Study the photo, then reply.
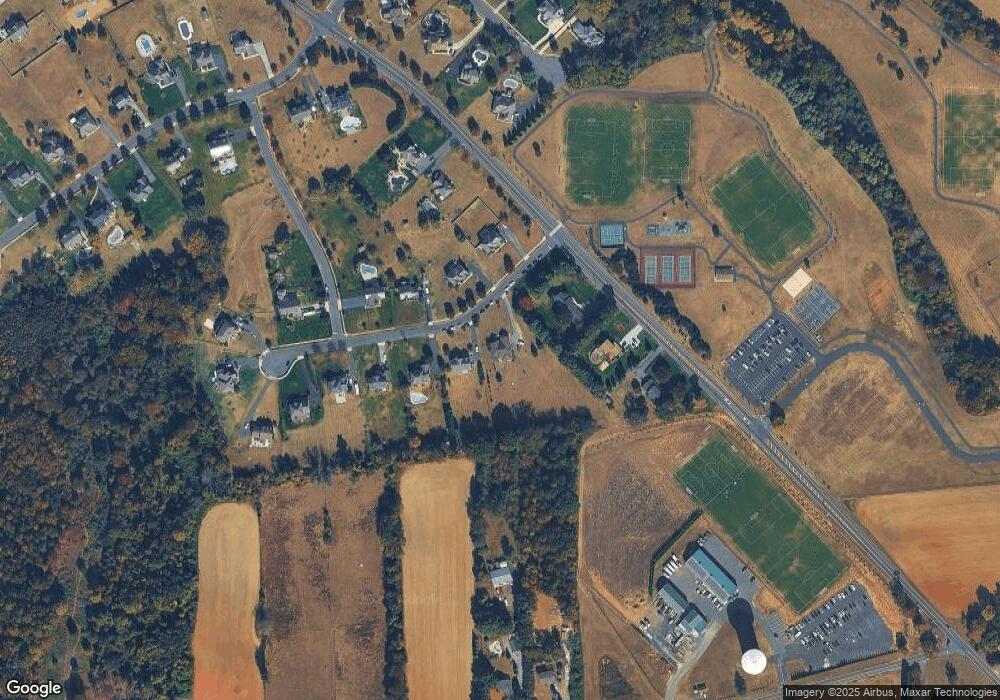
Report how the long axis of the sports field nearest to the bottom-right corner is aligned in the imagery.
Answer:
on a diagonal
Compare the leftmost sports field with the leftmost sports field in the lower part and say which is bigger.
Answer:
the leftmost sports field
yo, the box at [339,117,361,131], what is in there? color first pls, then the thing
white swimming pool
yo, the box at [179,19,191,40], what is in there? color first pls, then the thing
white swimming pool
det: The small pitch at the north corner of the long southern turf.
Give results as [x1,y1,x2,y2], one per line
[674,431,754,510]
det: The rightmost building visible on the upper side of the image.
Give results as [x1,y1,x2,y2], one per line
[716,267,735,283]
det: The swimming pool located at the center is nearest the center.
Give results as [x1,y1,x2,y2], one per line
[409,391,428,404]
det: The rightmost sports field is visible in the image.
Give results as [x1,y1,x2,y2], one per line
[939,89,1000,187]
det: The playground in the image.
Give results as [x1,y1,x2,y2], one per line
[647,221,690,236]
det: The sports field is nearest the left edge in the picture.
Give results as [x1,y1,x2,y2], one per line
[562,100,637,210]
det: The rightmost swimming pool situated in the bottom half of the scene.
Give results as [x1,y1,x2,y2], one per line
[489,640,504,653]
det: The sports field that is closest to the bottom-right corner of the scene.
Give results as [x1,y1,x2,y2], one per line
[702,462,848,615]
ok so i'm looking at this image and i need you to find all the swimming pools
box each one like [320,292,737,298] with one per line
[409,391,428,404]
[473,49,488,63]
[221,164,235,174]
[179,19,191,40]
[106,226,125,246]
[387,172,408,190]
[489,640,504,653]
[359,263,378,279]
[503,78,519,88]
[339,117,361,131]
[135,33,154,57]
